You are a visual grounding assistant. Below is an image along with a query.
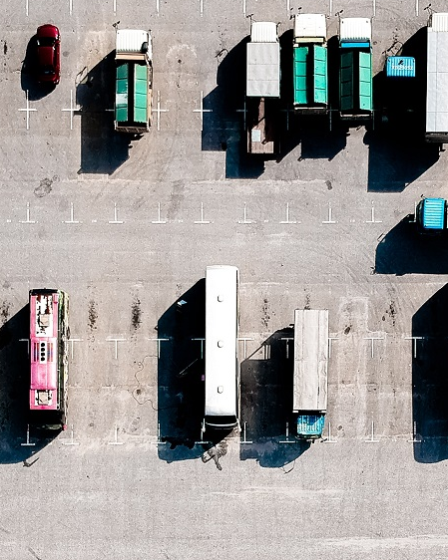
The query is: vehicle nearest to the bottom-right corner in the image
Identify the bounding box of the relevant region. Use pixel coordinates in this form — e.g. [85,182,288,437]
[294,310,330,445]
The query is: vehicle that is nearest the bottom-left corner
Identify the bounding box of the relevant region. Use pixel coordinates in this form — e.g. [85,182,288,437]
[28,290,68,429]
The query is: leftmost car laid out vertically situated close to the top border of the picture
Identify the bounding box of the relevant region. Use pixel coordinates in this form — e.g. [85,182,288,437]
[34,25,61,84]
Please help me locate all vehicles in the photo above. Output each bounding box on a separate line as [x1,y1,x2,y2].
[413,194,448,237]
[422,5,448,140]
[289,6,330,120]
[333,11,374,123]
[111,21,153,137]
[380,48,419,126]
[294,310,330,445]
[34,25,61,84]
[28,290,68,429]
[244,13,282,157]
[204,265,241,430]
